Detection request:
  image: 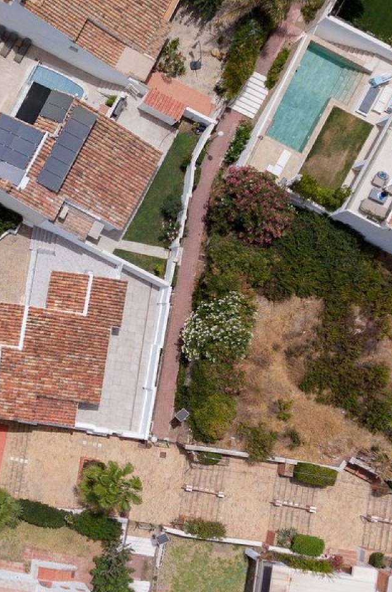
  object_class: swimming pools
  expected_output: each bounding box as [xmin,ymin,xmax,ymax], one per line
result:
[257,33,377,162]
[8,59,89,120]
